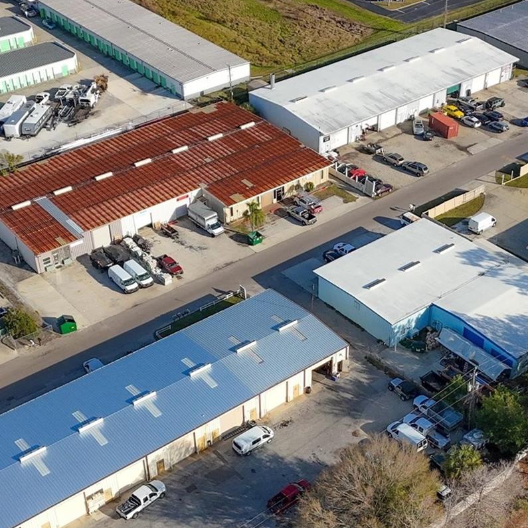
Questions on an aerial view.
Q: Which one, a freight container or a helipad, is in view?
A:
freight container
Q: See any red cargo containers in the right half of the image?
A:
Yes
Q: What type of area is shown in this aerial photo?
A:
industrial area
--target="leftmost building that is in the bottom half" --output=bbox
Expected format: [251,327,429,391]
[0,287,352,528]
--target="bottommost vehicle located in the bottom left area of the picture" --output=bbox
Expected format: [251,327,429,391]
[117,483,166,519]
